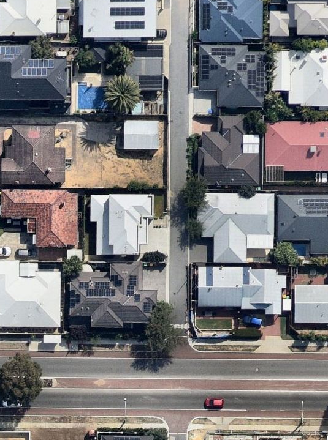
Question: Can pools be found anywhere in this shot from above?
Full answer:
Yes, this view includes a pool.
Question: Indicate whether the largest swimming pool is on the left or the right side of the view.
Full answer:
The largest swimming pool appears in the left half of the scene.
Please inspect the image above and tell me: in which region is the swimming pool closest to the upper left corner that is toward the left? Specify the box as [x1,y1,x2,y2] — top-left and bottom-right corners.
[77,85,108,109]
